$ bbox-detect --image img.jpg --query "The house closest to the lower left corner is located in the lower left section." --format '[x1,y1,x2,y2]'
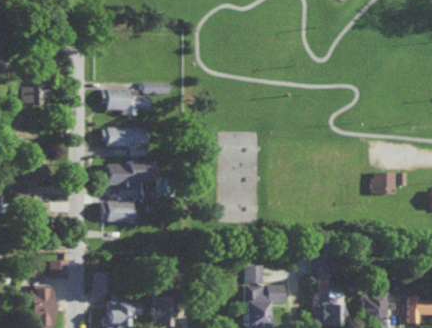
[32,286,58,328]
